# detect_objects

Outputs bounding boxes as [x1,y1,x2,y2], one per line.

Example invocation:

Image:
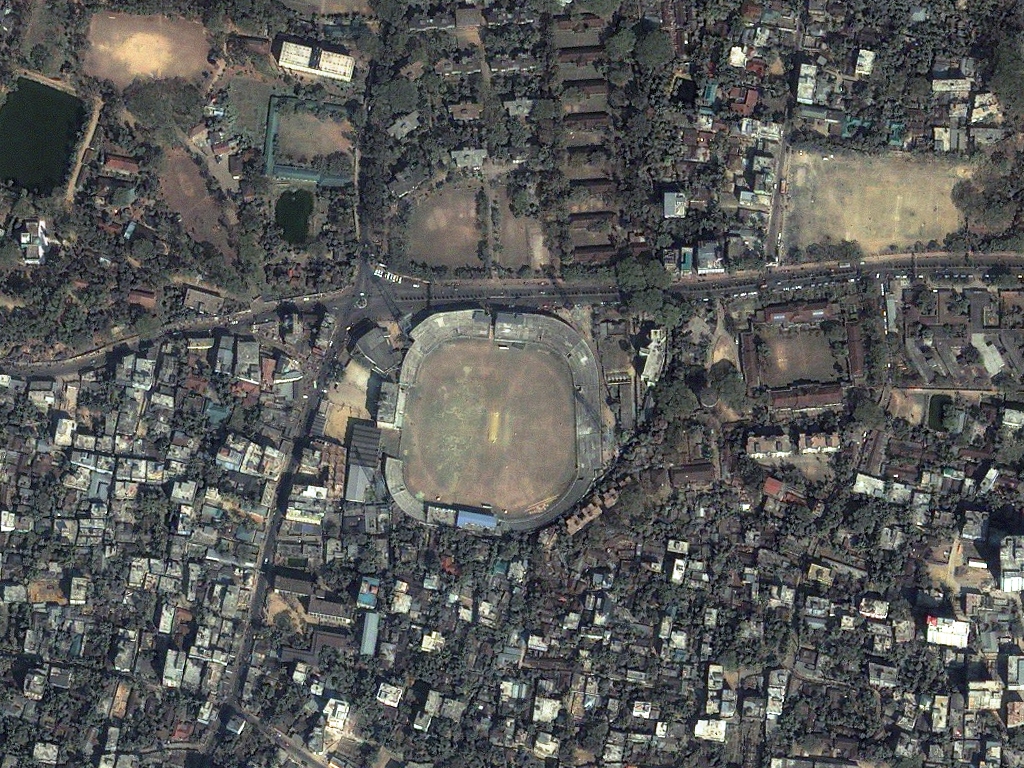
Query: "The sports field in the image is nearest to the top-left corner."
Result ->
[84,10,211,95]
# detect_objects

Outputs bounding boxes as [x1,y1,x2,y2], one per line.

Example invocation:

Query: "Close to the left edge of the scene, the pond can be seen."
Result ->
[0,79,85,188]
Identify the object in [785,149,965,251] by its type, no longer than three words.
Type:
sports field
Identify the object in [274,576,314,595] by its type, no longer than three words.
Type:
shed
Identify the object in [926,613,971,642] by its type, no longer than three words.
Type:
building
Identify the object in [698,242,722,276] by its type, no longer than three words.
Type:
house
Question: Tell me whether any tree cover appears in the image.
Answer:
Yes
